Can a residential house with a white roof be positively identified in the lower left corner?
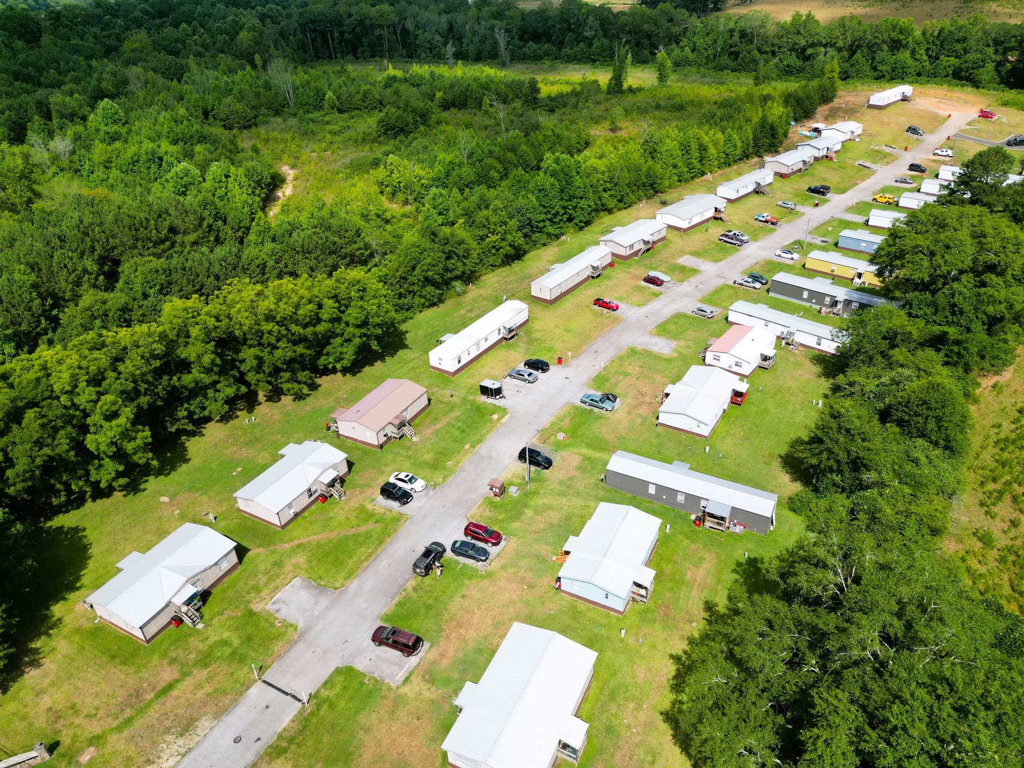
Yes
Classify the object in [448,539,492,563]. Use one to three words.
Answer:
car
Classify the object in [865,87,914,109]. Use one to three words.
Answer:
house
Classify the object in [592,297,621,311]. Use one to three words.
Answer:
vehicle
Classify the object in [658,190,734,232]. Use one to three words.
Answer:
house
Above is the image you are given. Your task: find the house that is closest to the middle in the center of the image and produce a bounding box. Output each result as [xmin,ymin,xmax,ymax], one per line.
[426,298,530,377]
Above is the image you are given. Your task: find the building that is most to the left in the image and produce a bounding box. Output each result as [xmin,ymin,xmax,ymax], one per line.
[90,523,240,645]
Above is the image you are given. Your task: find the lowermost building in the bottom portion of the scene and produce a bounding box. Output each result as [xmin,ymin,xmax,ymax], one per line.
[440,606,605,768]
